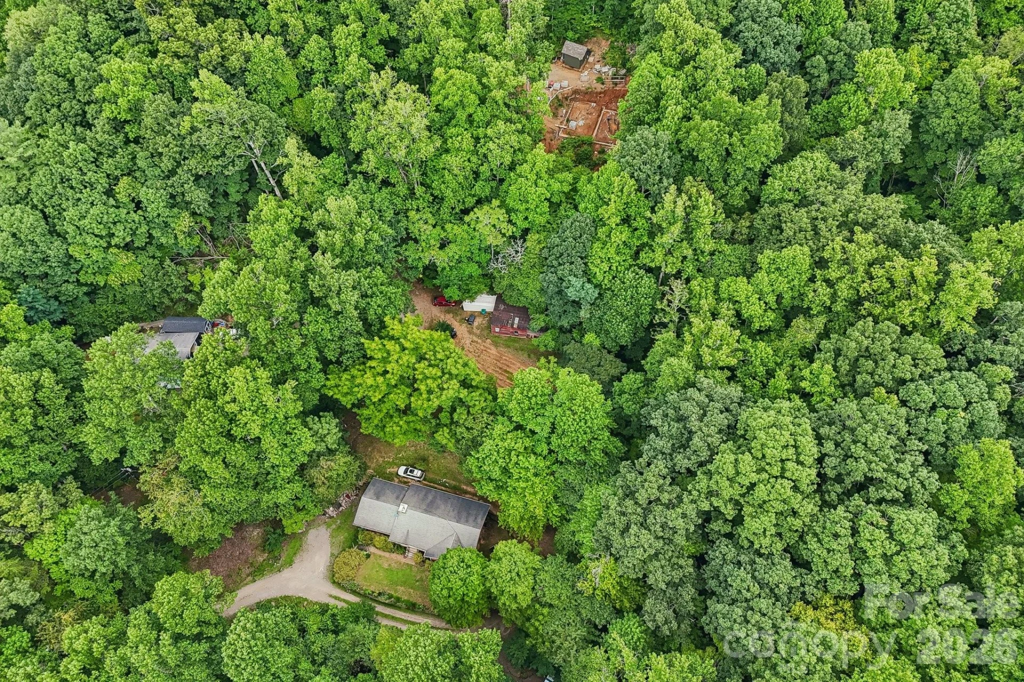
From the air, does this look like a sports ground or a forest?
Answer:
forest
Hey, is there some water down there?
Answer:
No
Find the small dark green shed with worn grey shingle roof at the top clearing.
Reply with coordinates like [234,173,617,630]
[562,46,589,71]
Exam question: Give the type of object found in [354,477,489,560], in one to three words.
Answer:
house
